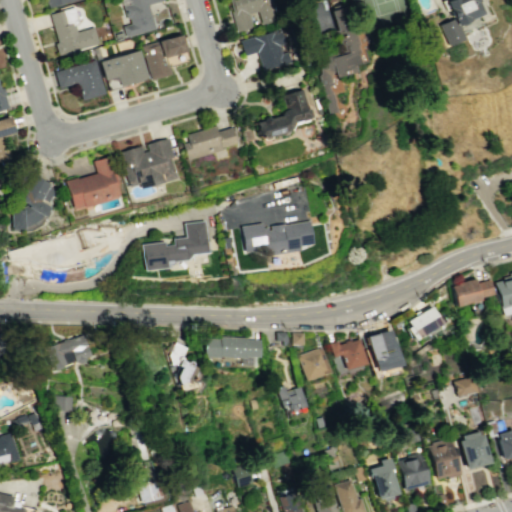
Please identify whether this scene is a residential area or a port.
residential area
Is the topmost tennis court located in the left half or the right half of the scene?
right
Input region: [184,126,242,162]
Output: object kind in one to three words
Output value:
house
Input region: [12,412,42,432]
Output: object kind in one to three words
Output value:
building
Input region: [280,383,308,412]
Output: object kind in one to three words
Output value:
house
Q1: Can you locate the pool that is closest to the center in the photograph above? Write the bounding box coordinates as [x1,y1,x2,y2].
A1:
[132,186,158,199]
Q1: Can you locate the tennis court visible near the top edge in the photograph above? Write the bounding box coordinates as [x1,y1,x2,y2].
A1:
[370,0,409,26]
